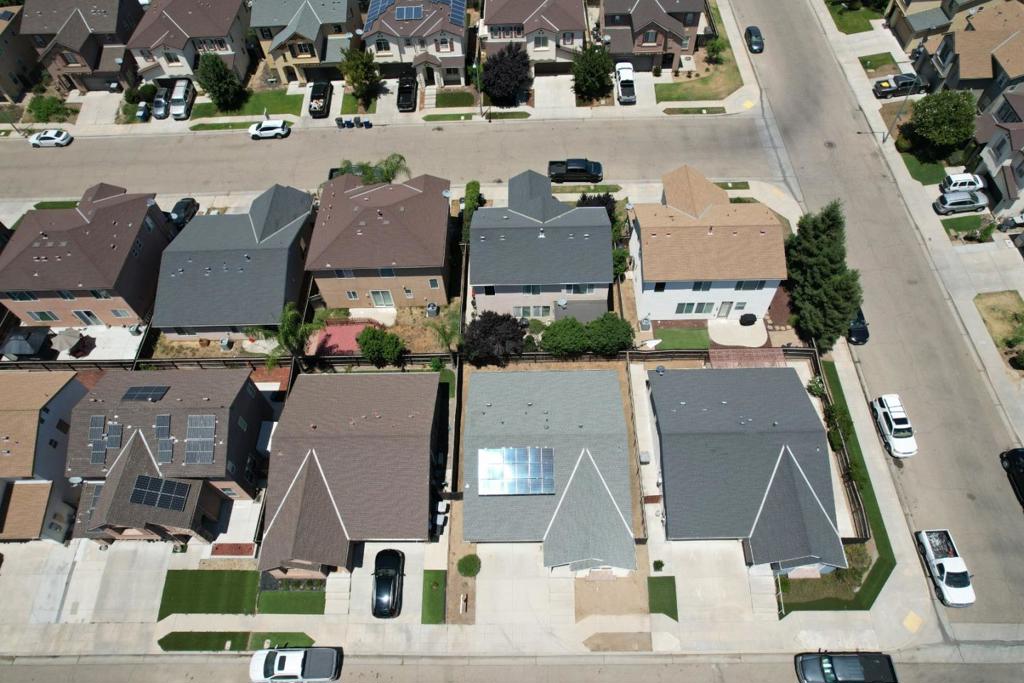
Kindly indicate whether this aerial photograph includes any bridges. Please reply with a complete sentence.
No, no bridge is visible in the scene.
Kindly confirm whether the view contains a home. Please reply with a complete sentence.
Yes, the picture does show a home.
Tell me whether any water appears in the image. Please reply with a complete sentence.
No, there is no water in the image.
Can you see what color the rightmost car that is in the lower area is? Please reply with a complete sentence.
From above, the rightmost car that is in the lower area appears black.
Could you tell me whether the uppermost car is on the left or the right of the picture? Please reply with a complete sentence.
It is on the right.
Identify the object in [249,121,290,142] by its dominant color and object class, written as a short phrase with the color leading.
white car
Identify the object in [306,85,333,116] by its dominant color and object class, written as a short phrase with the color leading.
black truck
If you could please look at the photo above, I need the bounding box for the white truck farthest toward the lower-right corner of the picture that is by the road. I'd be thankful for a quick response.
[916,529,973,611]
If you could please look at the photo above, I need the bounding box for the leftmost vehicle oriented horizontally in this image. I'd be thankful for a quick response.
[29,131,74,150]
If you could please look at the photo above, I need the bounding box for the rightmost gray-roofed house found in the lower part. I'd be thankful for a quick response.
[645,365,848,584]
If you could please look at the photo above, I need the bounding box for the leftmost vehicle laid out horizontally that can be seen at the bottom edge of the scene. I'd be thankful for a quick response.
[254,646,344,683]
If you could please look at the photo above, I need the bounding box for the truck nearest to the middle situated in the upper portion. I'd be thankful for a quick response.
[548,160,602,184]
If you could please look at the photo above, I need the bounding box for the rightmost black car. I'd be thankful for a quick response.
[996,449,1024,509]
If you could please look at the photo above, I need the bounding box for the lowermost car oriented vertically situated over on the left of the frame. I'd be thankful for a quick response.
[371,550,405,620]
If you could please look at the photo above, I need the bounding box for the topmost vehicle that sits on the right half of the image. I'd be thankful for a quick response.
[742,28,765,54]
